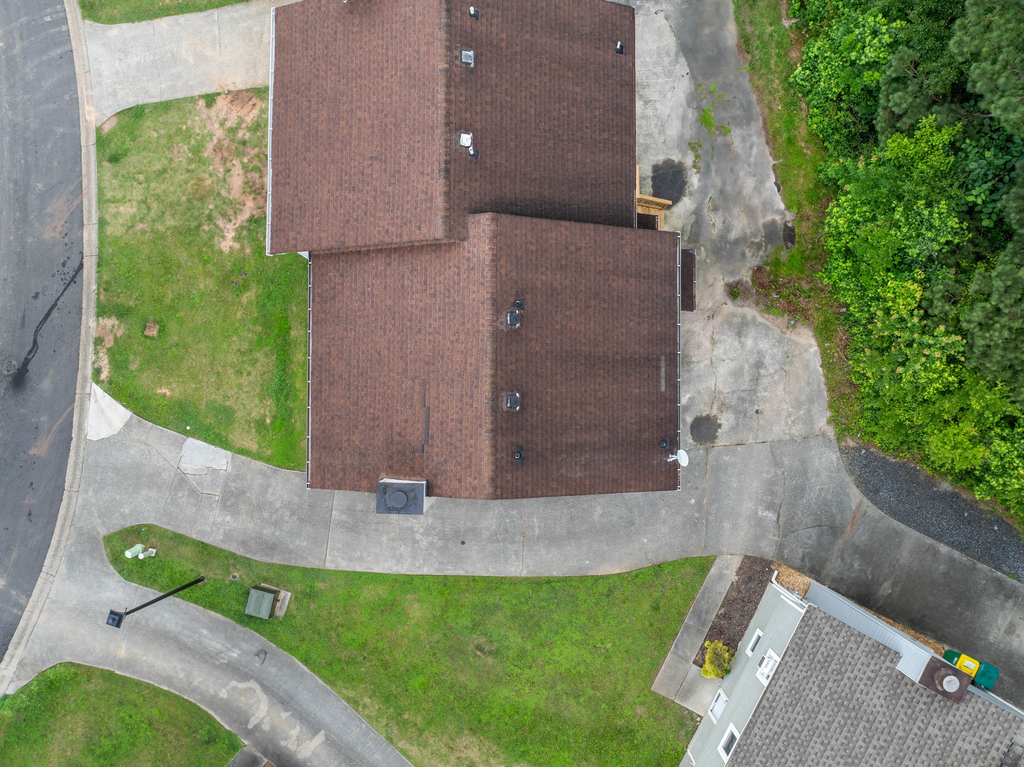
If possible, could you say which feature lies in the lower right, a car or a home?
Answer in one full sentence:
Looking in the lower right, you will find a home.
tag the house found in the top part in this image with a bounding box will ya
[267,0,696,513]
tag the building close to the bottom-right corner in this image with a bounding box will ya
[672,569,1024,767]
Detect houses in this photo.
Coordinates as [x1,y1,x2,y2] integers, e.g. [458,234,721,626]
[672,569,1024,767]
[267,0,696,513]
